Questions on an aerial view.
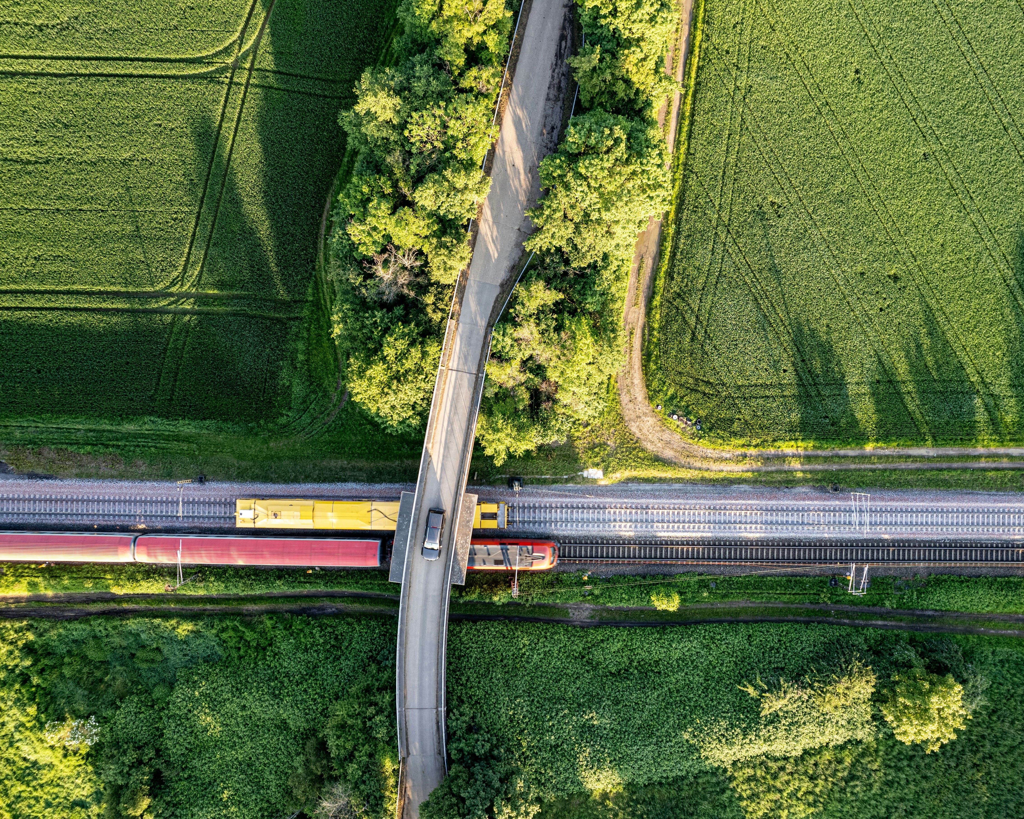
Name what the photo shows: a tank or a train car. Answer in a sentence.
Visible in the photo is a train car.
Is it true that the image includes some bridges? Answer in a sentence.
Yes, the image includes a bridge.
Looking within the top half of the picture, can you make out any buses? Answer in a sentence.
No, I can find no bus within the top half of the picture.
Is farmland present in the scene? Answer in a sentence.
Yes, farmland can be seen from above here.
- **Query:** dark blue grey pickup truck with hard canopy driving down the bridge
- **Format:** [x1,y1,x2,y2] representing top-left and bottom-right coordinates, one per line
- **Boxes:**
[421,507,446,560]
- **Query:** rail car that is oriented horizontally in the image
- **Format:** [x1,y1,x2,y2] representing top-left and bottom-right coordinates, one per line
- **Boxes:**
[467,539,562,570]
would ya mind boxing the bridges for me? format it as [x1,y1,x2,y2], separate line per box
[389,318,499,765]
